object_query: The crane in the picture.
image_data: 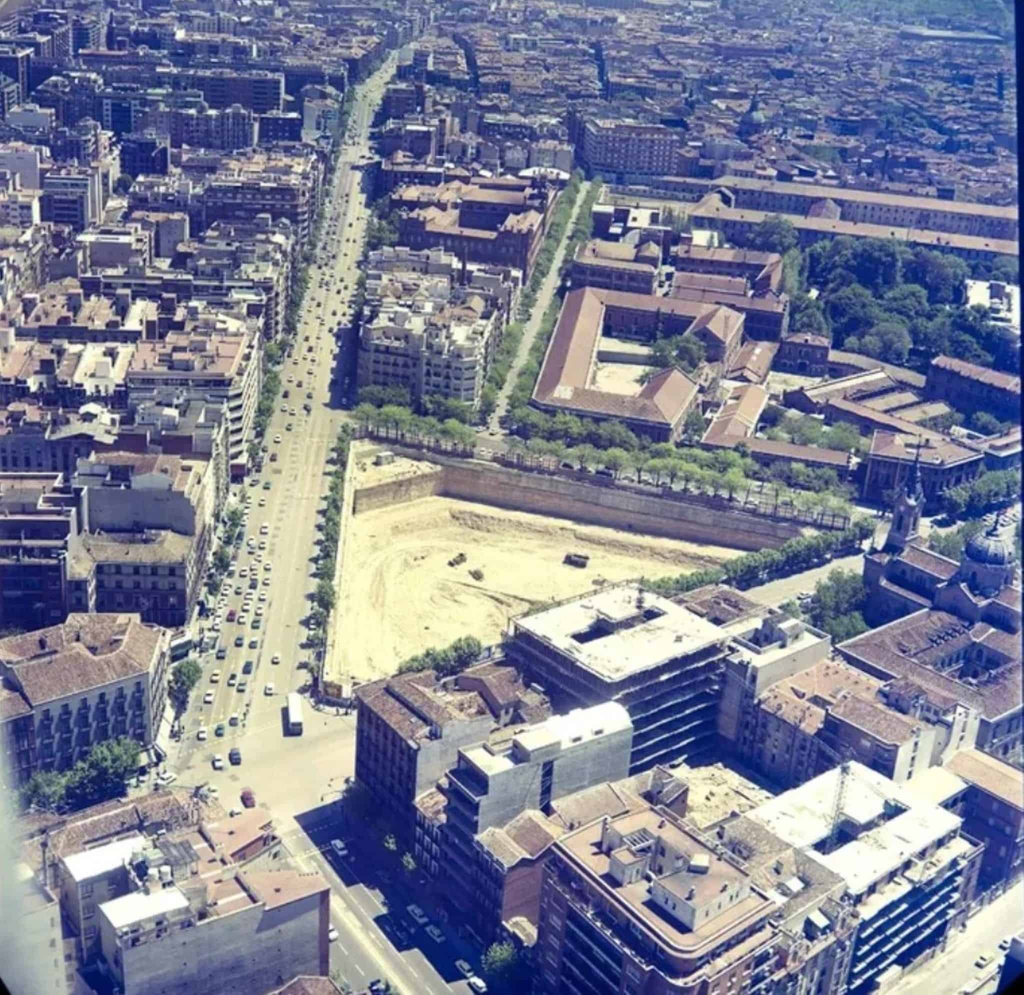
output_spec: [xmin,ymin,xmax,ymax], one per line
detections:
[823,749,882,811]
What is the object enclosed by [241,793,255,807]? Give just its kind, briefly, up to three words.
car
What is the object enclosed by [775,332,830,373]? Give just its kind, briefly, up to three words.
house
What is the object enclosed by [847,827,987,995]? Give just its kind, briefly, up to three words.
building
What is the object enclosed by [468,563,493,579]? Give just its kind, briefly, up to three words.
work vehicle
